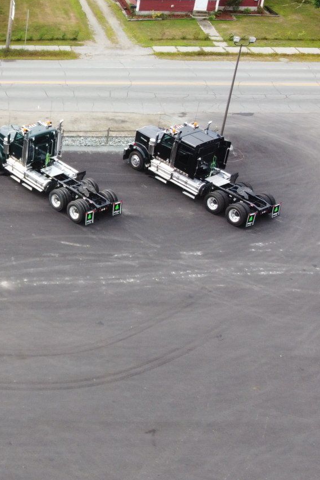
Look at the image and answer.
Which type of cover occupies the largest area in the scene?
paved ground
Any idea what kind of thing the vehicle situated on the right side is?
truck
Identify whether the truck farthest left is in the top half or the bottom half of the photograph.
top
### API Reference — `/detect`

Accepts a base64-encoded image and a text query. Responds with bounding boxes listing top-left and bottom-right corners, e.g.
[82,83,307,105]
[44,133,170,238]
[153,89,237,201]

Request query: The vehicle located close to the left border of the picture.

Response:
[0,112,127,224]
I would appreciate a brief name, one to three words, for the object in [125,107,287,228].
truck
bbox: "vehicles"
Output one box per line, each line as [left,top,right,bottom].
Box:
[0,112,127,224]
[125,107,287,228]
